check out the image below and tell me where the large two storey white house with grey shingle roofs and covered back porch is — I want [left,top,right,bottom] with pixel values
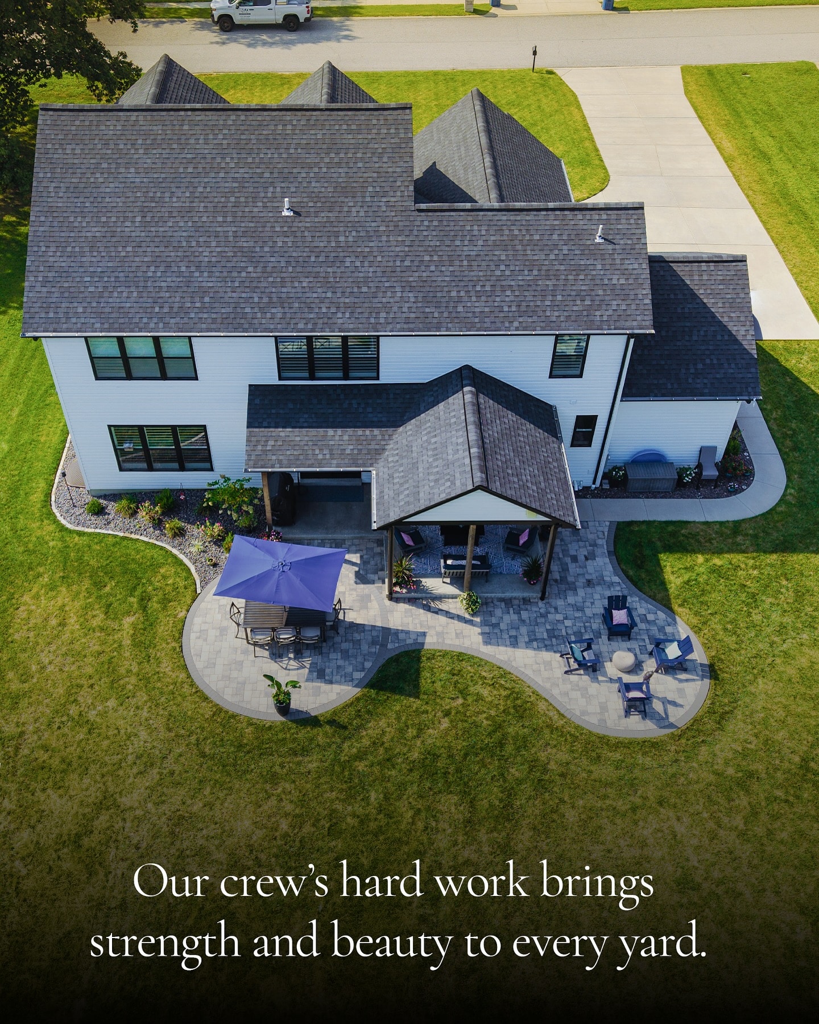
[19,51,763,602]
